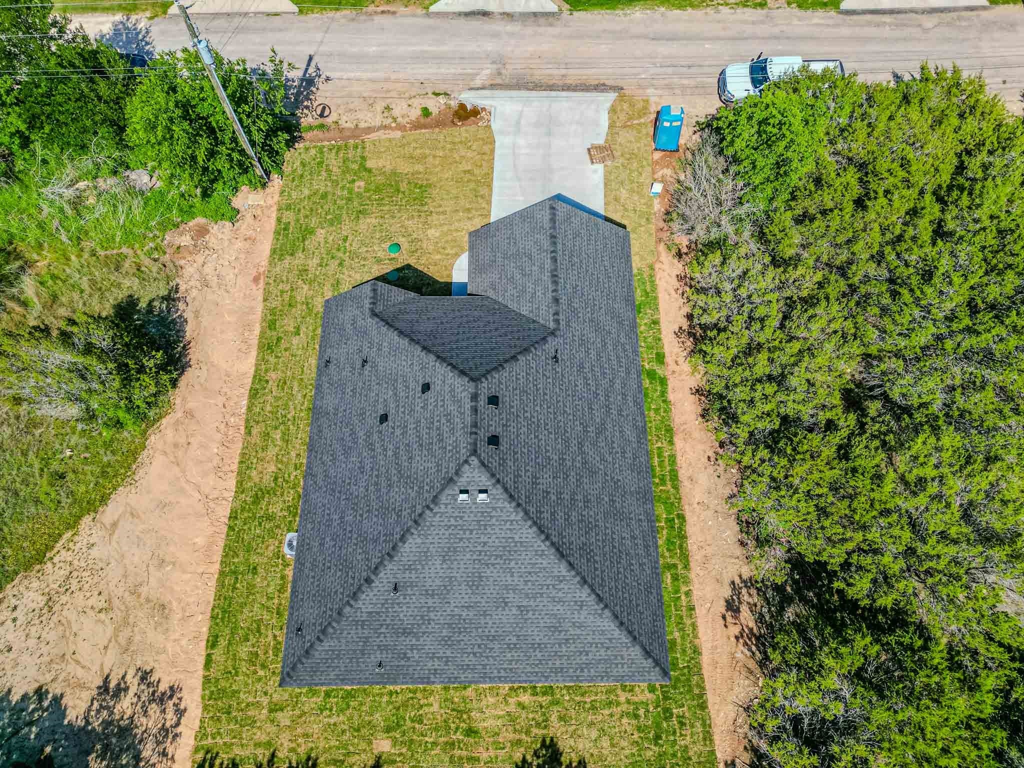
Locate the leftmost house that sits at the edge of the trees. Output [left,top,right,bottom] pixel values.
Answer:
[280,196,669,687]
